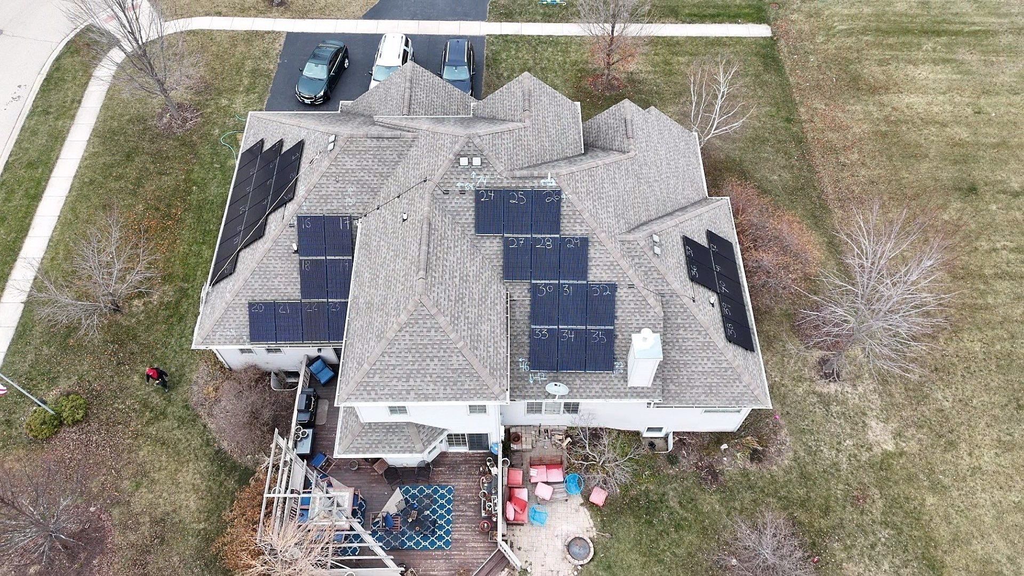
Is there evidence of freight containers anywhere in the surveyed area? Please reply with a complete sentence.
No, the picture doesn't show any freight container.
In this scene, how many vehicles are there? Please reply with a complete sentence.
My tally gives 3 vehicles in this view.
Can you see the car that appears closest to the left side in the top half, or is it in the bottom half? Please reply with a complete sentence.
It is in the top half that the car that appears closest to the left side appears.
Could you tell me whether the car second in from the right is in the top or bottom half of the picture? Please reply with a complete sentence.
The top half of the photo is where the car second in from the right is.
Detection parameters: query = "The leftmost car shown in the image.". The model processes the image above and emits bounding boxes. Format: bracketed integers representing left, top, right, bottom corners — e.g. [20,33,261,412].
[293,35,349,106]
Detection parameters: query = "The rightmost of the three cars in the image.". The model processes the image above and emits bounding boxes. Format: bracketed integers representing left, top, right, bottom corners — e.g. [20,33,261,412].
[436,32,476,91]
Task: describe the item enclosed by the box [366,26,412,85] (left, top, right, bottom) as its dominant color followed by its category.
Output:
white car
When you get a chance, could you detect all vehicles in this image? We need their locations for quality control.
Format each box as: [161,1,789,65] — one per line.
[436,32,476,91]
[366,26,412,85]
[293,35,349,106]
